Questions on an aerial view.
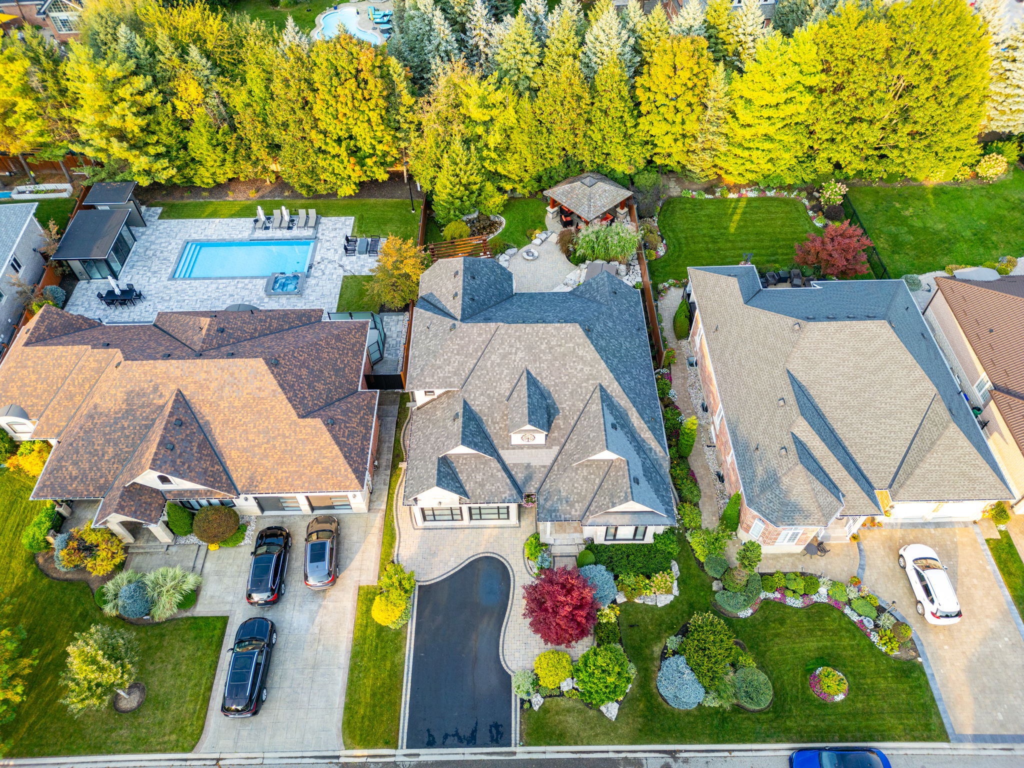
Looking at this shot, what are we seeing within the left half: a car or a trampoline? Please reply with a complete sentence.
Visible within the left half is a car.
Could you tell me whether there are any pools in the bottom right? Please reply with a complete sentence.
No, I see no pool in the bottom right.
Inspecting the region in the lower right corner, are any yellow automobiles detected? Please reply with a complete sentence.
No, no yellow automobile appears in the lower right corner.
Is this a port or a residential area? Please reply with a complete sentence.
The area seen from above is a residential area.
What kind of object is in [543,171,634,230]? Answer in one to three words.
gazebo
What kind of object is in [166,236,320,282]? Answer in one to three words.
swimming pool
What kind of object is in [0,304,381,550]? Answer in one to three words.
house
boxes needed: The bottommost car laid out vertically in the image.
[217,623,275,727]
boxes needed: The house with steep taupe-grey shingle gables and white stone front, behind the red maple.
[401,256,679,543]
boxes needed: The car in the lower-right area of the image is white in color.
[902,548,971,634]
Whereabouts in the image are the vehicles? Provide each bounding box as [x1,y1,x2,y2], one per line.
[217,623,275,727]
[902,548,971,634]
[793,749,895,768]
[241,528,291,613]
[299,517,340,596]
